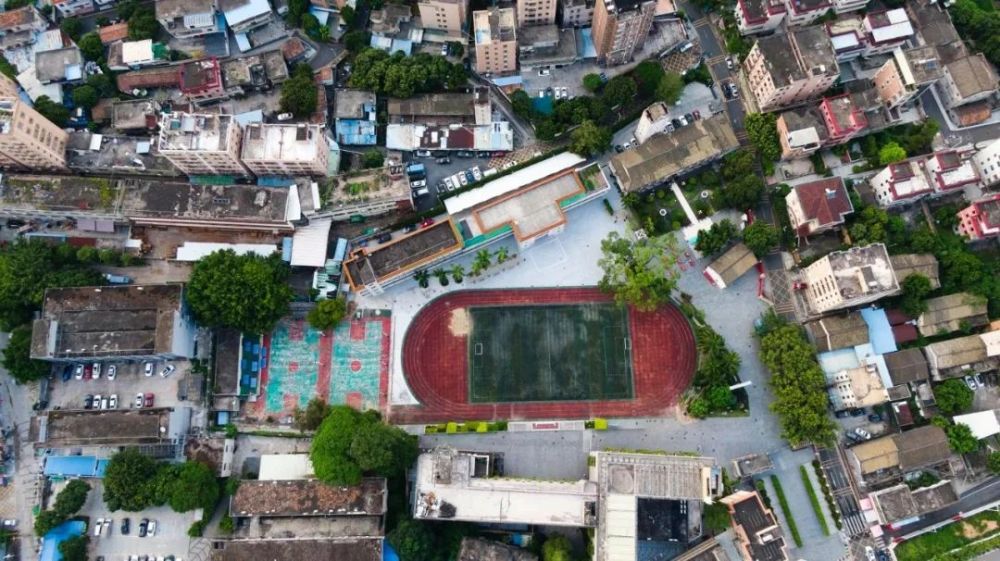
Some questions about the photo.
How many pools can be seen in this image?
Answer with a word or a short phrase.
zero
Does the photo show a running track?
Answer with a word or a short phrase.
Yes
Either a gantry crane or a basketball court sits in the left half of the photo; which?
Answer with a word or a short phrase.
basketball court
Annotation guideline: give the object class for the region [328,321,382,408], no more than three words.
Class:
basketball court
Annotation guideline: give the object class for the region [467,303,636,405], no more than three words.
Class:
sports field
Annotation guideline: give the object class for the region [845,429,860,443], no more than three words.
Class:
vehicle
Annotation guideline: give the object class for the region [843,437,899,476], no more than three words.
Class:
house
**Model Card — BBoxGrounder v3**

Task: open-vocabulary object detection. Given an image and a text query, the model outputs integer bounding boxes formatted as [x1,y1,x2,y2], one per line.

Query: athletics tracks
[390,287,699,420]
